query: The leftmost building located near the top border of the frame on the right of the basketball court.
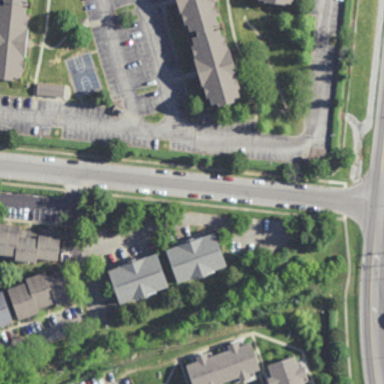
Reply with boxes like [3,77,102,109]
[177,0,240,110]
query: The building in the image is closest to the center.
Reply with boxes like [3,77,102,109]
[168,235,225,282]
